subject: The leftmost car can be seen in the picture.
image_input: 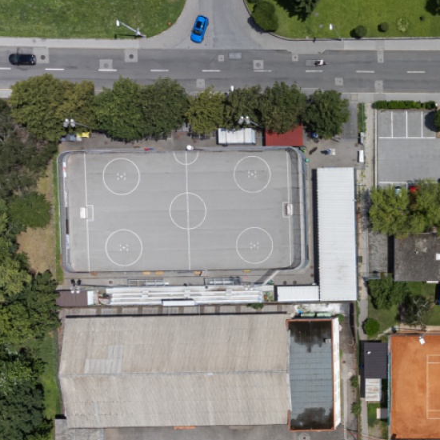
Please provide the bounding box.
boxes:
[10,52,36,65]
